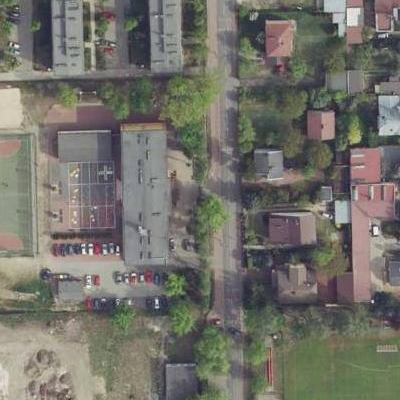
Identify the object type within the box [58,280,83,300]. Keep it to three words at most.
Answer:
building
